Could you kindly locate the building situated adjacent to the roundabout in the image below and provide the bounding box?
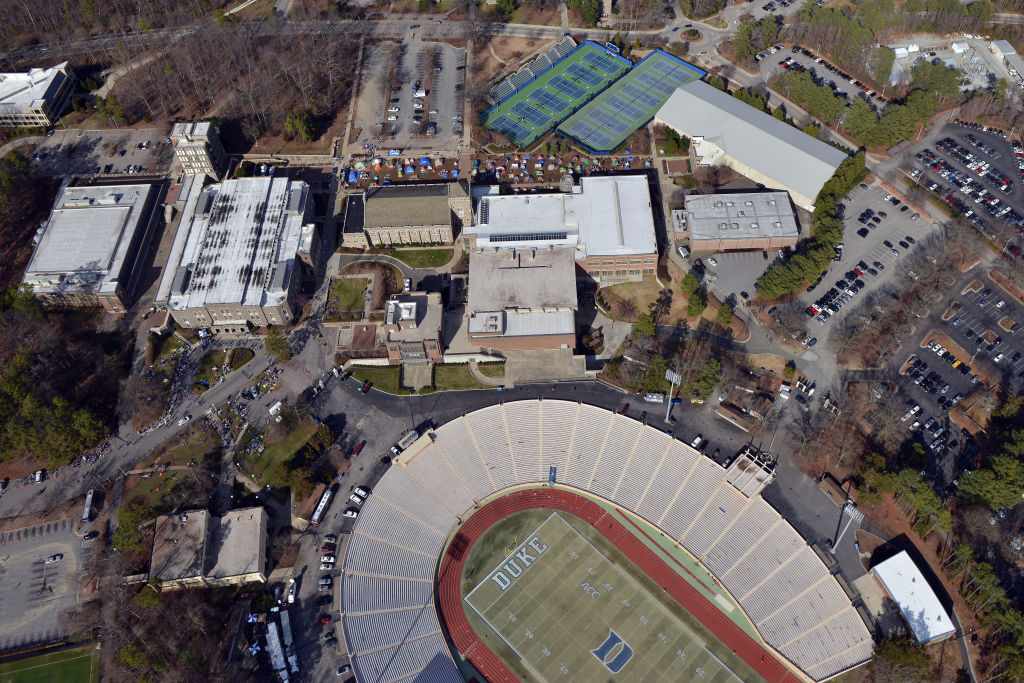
[655,80,849,215]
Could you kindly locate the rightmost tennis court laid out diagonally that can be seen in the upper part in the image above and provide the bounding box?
[558,50,707,150]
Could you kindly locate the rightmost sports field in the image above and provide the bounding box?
[462,509,748,683]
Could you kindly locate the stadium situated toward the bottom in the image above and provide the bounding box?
[340,398,871,683]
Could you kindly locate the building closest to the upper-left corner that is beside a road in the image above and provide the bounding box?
[0,62,79,132]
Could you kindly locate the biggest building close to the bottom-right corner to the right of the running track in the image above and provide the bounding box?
[867,551,954,649]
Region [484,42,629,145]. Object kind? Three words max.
tennis court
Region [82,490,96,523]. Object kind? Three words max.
vehicle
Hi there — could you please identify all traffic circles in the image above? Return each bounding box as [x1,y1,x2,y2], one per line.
[663,19,720,53]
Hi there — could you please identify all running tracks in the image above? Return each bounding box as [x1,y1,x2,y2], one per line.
[438,490,804,683]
